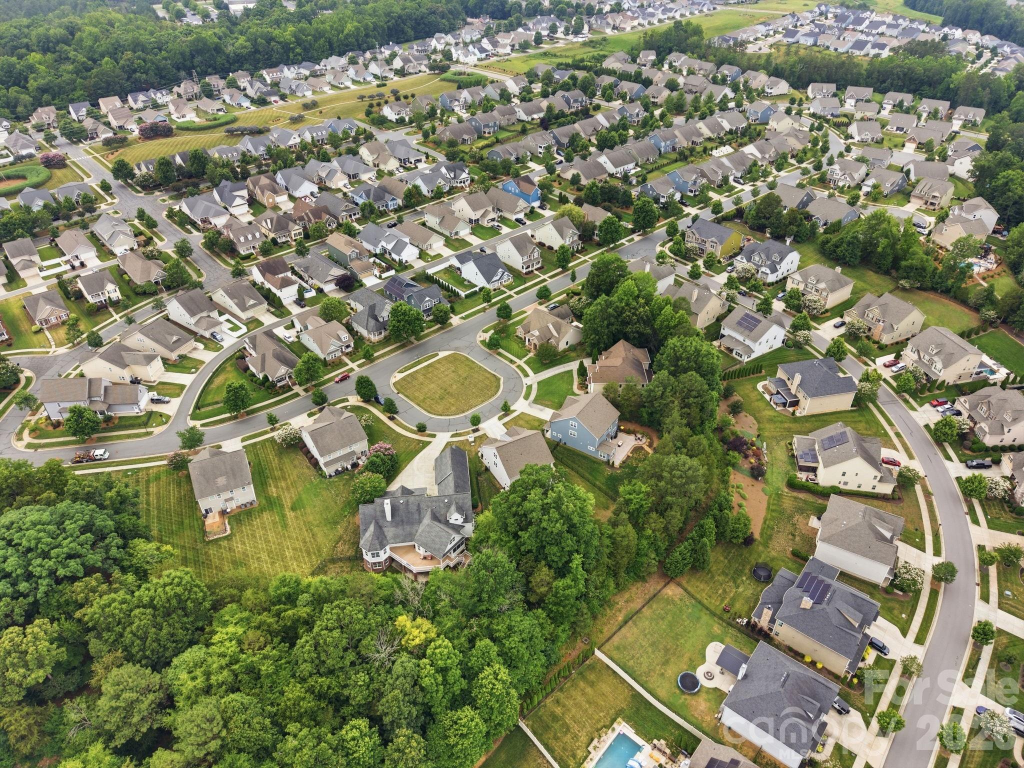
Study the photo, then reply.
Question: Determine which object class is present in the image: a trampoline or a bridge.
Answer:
trampoline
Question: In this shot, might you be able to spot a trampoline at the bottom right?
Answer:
Yes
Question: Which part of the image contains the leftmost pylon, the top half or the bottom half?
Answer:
top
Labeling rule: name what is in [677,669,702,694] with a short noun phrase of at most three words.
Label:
trampoline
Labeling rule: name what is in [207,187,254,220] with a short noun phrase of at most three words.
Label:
house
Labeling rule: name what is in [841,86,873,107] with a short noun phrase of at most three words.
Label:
house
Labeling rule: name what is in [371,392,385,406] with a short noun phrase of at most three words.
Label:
car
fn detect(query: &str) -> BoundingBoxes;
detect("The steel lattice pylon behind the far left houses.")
[186,68,208,102]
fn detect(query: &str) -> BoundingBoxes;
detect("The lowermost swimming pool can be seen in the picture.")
[590,728,646,768]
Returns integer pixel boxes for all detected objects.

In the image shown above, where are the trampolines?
[677,669,702,694]
[752,561,774,582]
